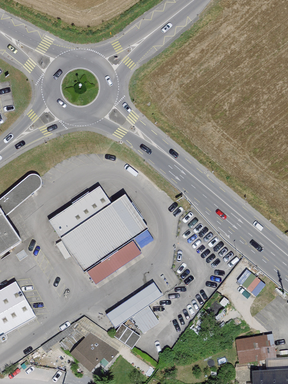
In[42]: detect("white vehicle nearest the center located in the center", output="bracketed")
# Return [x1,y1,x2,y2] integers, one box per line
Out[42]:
[123,162,140,176]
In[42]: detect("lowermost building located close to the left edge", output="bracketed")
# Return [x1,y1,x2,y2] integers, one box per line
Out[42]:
[0,282,36,338]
